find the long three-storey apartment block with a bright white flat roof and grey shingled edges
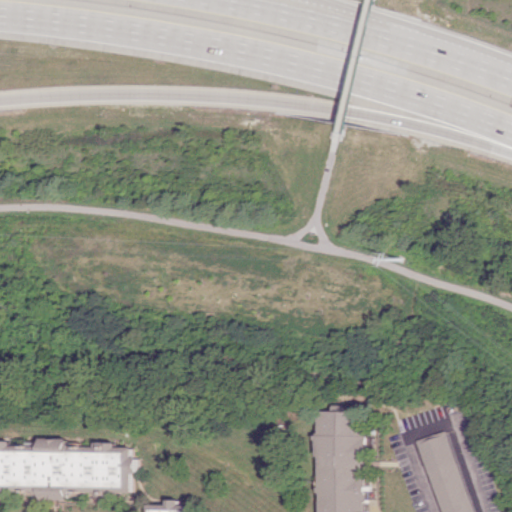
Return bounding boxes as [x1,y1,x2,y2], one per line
[0,438,147,500]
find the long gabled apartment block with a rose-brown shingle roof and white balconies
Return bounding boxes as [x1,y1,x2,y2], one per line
[310,406,378,512]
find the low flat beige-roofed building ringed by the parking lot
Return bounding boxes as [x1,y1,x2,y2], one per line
[416,432,477,512]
